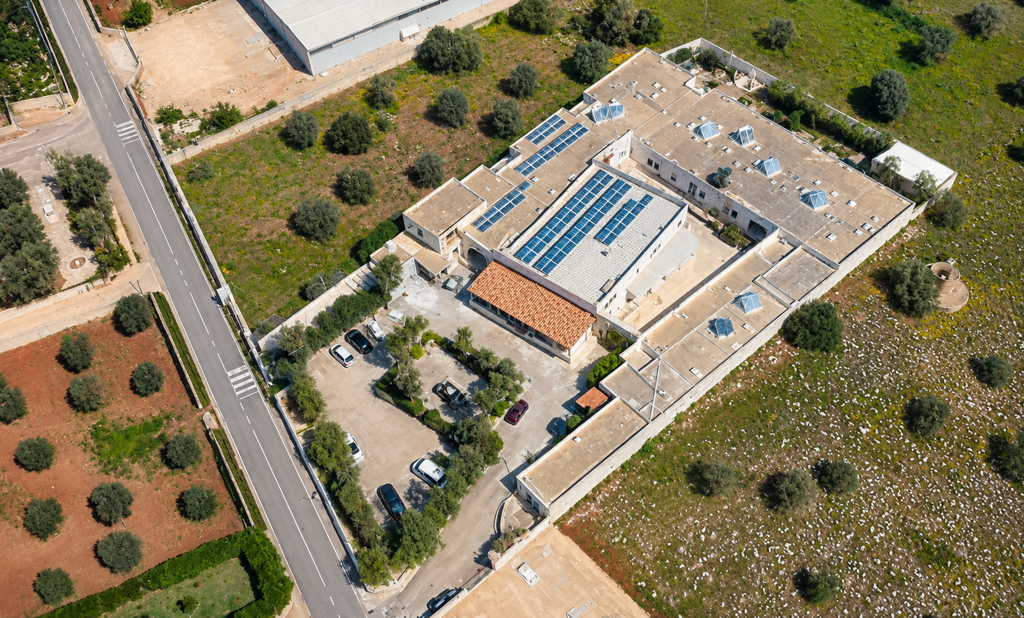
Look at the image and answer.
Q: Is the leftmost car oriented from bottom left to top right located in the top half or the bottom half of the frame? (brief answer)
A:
bottom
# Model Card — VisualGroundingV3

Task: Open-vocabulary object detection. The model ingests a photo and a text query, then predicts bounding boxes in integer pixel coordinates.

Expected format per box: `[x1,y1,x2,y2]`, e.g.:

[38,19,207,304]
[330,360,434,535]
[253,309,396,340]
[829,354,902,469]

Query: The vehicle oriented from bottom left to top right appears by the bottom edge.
[426,581,465,611]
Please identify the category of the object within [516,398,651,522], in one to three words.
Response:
building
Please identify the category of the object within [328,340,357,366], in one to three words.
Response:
car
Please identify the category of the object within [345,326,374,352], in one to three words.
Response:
car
